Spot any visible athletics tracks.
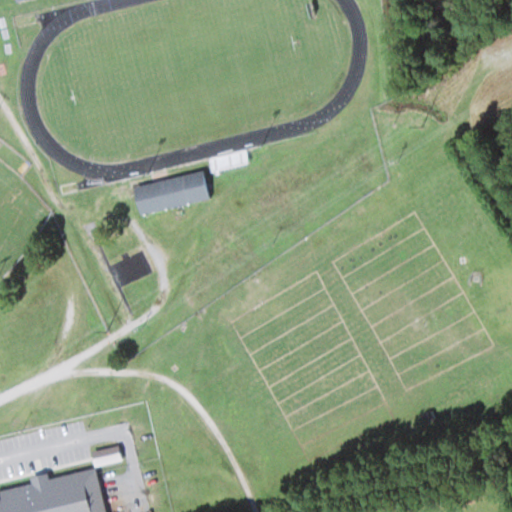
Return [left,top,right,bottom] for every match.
[22,0,368,182]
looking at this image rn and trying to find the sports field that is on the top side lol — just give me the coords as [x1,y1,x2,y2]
[37,0,351,164]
